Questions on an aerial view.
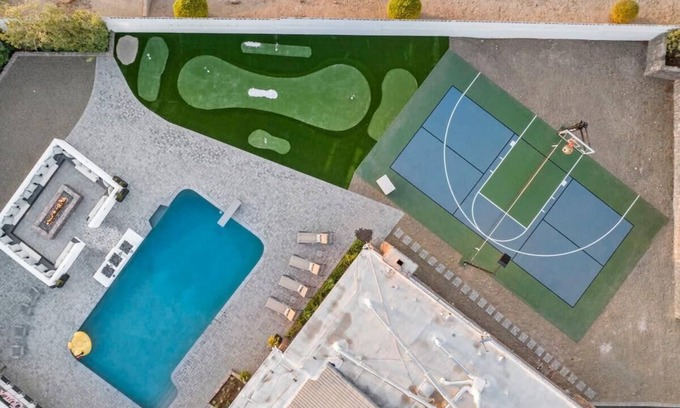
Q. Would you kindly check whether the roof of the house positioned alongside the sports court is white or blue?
white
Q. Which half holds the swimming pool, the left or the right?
left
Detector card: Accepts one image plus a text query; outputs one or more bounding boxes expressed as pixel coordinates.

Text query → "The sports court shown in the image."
[355,51,668,343]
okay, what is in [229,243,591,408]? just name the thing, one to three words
house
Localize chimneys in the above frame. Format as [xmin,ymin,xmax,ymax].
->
[375,238,418,273]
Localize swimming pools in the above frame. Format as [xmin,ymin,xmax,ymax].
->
[72,185,268,408]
